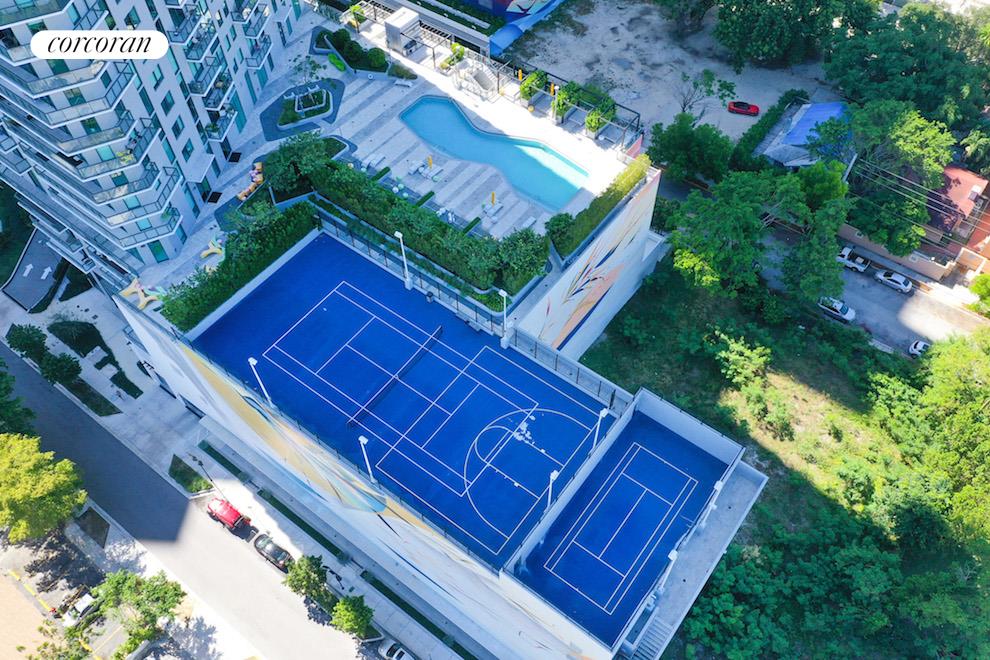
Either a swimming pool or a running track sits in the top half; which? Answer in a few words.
swimming pool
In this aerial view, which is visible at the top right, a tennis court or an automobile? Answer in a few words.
automobile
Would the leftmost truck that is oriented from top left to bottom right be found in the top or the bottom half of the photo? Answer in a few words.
bottom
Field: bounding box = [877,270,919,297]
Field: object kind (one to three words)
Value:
car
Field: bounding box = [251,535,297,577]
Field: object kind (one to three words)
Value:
car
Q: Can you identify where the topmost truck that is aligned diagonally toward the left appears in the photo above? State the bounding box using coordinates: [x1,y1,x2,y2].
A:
[204,498,257,545]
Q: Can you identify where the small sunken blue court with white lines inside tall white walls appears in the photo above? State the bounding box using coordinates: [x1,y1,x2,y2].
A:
[510,410,729,650]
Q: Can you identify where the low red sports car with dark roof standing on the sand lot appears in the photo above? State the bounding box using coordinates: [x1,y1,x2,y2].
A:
[725,103,759,120]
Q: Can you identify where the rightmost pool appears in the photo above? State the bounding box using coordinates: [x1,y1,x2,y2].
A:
[396,93,597,215]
